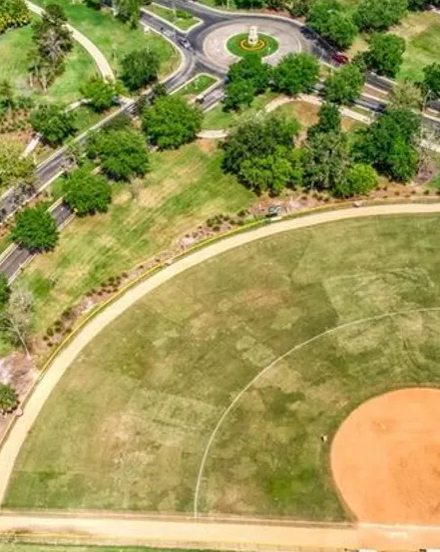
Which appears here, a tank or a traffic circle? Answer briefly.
traffic circle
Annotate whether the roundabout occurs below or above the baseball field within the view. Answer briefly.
above it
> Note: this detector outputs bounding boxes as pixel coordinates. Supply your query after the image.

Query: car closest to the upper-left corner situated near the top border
[160,23,176,36]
